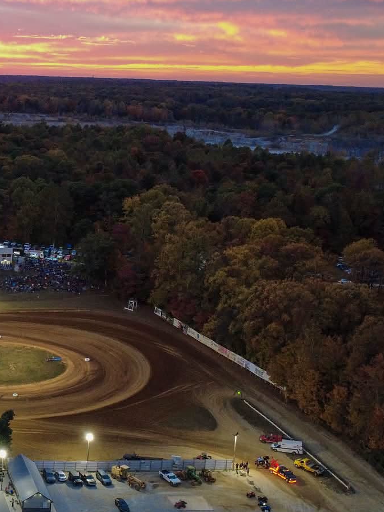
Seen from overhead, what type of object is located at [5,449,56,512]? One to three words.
barn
